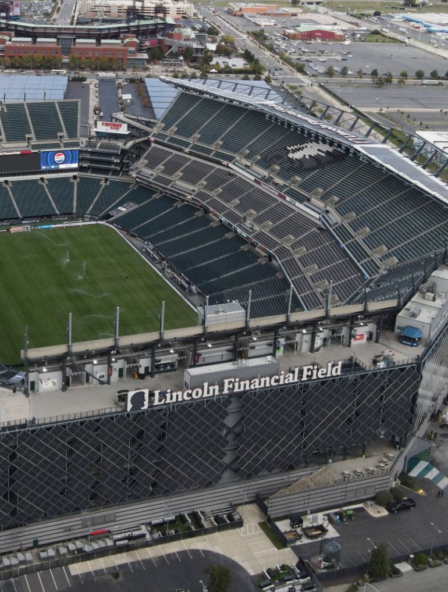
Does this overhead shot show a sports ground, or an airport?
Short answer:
sports ground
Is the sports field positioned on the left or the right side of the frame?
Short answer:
left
